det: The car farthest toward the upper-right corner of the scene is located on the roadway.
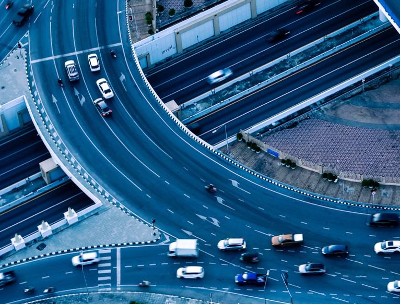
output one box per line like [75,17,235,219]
[296,0,320,14]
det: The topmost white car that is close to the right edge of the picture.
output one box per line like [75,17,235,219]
[373,240,400,254]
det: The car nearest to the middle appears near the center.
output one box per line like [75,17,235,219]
[189,120,205,133]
